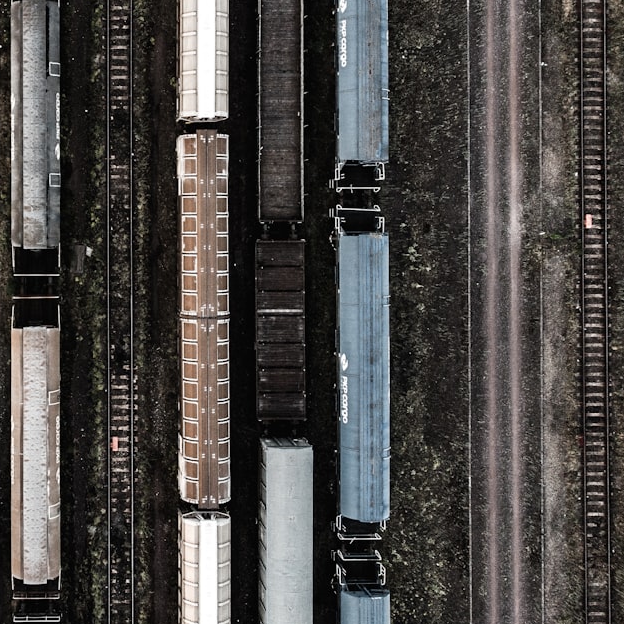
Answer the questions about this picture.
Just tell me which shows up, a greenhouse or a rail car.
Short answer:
rail car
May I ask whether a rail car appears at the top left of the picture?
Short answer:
Yes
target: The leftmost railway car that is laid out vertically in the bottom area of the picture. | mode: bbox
[9,286,62,605]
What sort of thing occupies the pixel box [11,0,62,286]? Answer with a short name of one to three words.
rail car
